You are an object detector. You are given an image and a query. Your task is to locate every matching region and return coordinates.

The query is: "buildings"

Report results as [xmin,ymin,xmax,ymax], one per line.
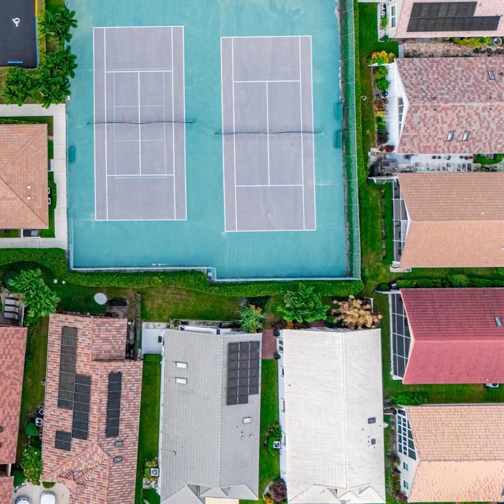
[392,173,504,268]
[159,329,262,504]
[394,57,504,153]
[0,326,27,504]
[282,328,387,504]
[389,0,504,38]
[394,288,504,385]
[400,403,504,504]
[41,314,144,504]
[0,124,48,229]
